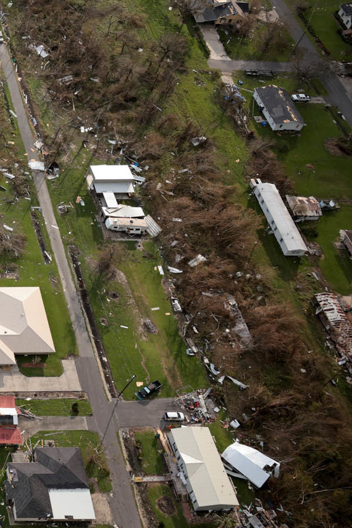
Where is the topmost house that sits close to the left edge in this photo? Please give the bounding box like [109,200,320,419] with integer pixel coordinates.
[0,286,56,370]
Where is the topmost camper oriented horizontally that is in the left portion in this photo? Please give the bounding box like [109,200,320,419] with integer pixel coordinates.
[102,217,147,235]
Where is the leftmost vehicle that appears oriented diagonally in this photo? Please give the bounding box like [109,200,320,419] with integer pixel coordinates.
[139,381,162,398]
